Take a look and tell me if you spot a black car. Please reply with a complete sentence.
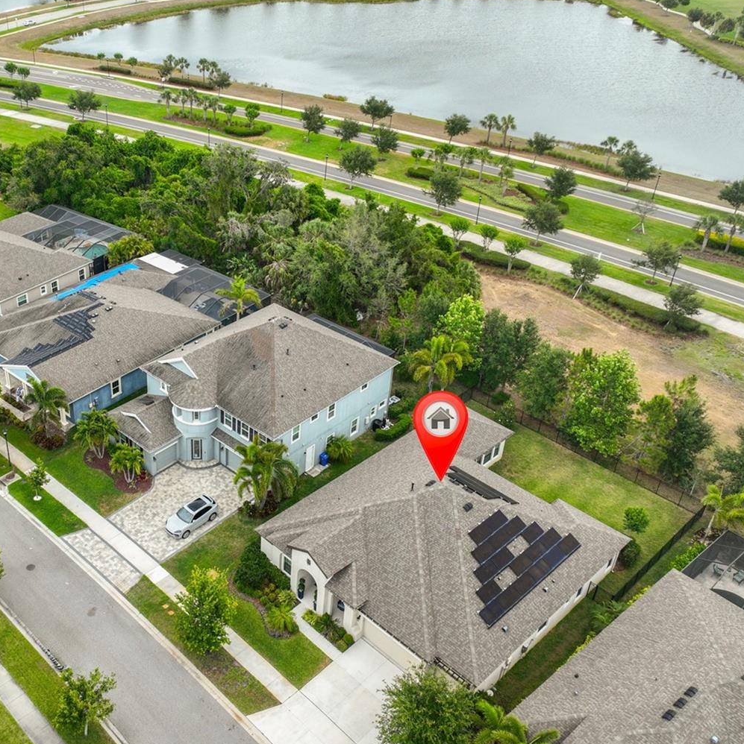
No, the scene contains no black car.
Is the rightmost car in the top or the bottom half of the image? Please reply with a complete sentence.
You can find the rightmost car in the bottom half.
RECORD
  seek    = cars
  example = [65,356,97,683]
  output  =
[164,497,223,543]
[23,20,35,26]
